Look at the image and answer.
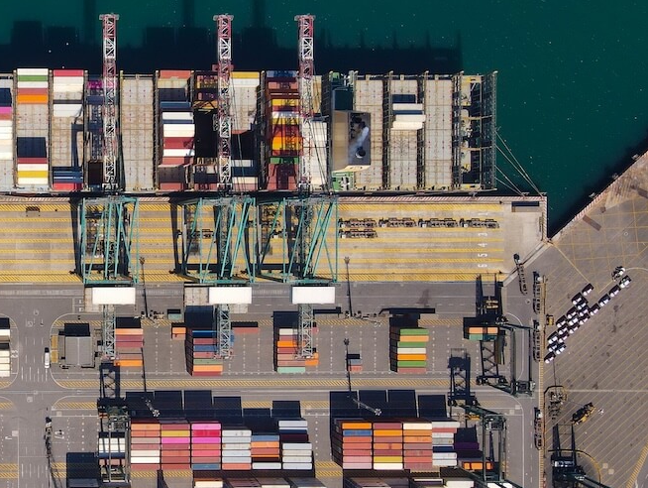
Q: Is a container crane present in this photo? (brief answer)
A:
Yes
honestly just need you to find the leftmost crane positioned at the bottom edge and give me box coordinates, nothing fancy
[101,400,134,483]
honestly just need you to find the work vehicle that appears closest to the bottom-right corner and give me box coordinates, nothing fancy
[574,401,602,422]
